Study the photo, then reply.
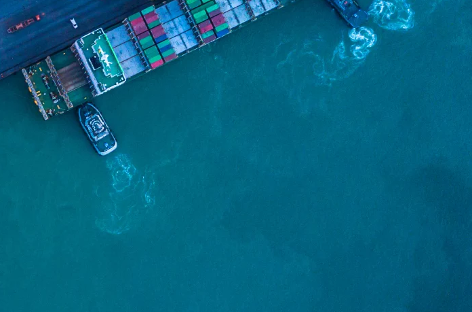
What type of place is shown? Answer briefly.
port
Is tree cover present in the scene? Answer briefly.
No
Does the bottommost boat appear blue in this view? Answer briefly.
Yes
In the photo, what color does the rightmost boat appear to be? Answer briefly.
blue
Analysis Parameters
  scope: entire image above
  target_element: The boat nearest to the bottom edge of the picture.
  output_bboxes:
[76,103,111,159]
